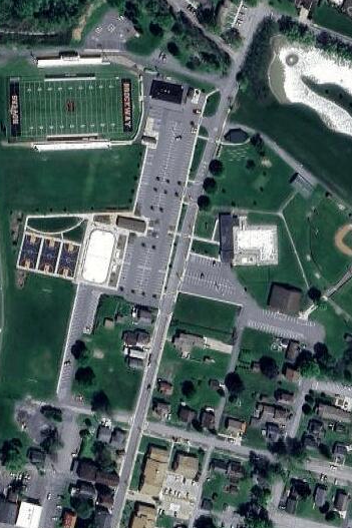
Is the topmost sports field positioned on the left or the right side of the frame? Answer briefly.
left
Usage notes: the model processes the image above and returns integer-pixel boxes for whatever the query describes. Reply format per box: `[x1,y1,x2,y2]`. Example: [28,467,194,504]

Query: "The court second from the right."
[57,243,79,277]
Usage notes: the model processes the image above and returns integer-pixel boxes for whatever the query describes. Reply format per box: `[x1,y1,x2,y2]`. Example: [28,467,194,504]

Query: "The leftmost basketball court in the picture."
[20,234,42,268]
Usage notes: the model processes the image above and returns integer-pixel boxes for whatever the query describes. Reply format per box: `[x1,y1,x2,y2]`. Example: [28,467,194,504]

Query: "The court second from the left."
[38,238,61,272]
